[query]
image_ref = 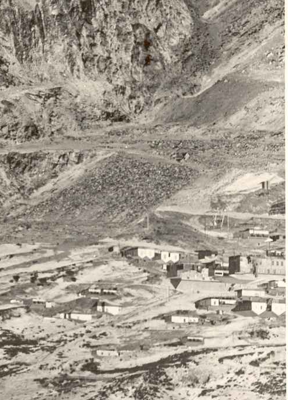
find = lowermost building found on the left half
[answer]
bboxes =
[91,348,120,364]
